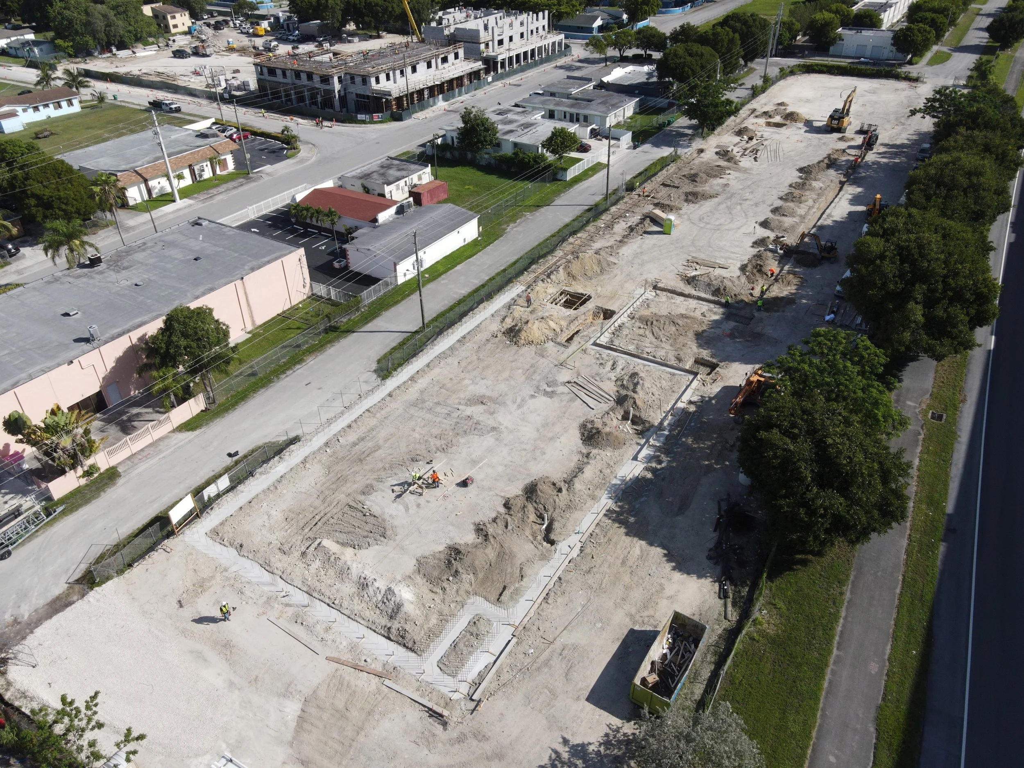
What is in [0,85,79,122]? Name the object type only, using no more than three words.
house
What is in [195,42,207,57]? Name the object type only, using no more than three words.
vehicle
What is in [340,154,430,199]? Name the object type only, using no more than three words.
house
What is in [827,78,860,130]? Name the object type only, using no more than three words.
work vehicle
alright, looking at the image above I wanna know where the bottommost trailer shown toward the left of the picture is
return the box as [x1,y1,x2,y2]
[0,492,66,561]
